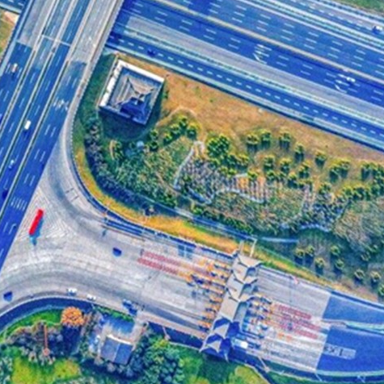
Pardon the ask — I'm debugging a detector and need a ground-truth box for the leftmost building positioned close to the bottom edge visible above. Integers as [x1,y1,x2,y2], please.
[101,334,134,367]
